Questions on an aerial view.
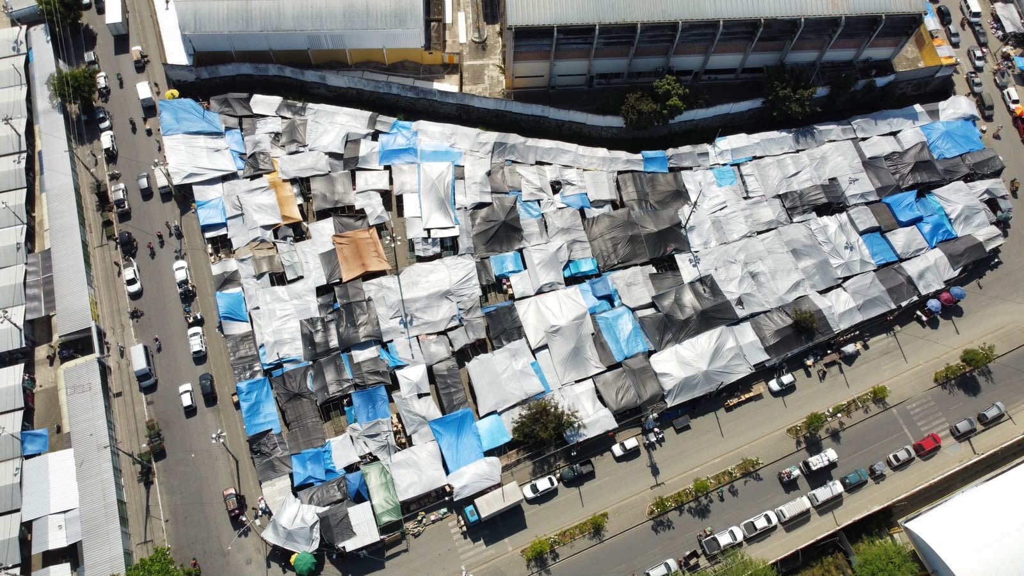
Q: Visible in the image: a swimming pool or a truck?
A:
truck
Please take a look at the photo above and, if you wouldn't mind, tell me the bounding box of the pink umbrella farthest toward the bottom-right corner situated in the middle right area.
[938,293,954,307]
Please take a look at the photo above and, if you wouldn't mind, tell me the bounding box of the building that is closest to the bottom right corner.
[876,457,1024,576]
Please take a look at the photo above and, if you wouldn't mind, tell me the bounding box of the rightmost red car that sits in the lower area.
[910,434,942,456]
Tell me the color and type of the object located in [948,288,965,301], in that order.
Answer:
blue umbrella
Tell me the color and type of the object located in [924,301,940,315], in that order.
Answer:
blue umbrella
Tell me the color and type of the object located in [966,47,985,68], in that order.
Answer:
gray vehicle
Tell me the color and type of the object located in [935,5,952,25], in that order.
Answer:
black car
